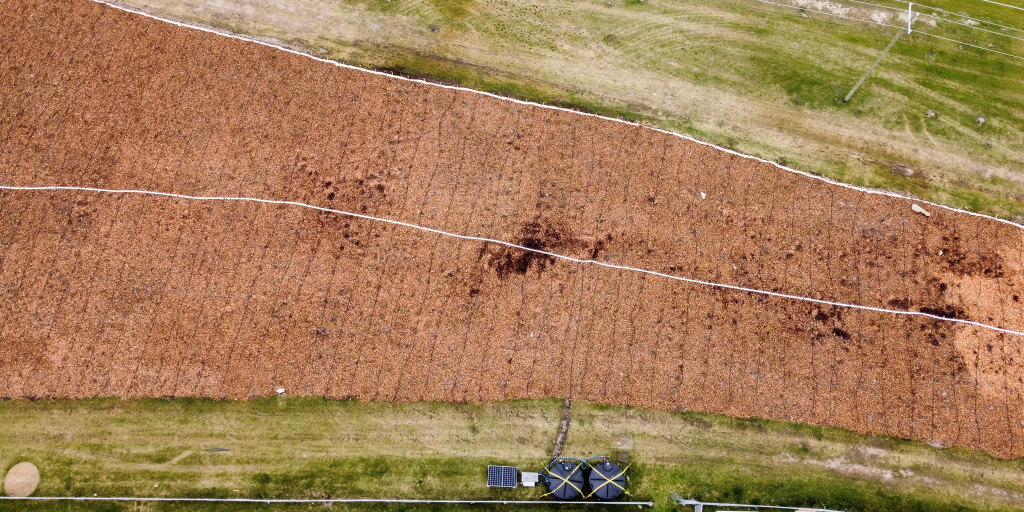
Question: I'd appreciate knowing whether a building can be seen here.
No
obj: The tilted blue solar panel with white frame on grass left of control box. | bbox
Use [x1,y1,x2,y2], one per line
[487,465,517,489]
